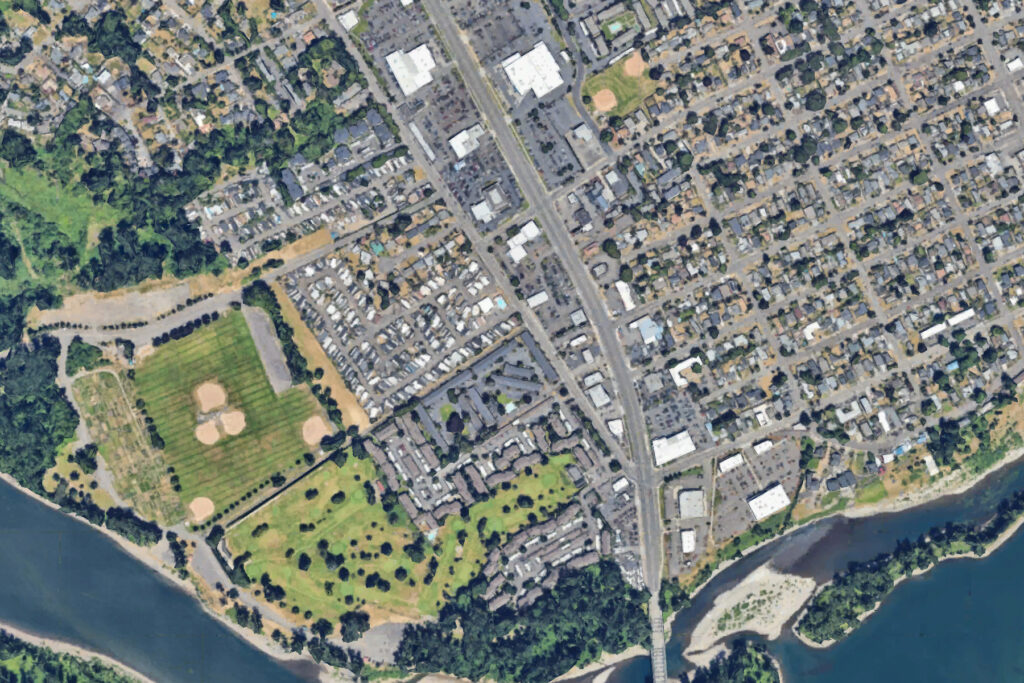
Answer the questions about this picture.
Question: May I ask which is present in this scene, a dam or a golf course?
golf course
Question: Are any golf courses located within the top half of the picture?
No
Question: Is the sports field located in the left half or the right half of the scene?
left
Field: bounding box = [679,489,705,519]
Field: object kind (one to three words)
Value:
building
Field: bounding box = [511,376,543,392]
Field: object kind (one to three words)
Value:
building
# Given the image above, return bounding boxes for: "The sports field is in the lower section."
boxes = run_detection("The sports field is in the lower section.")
[135,306,335,523]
